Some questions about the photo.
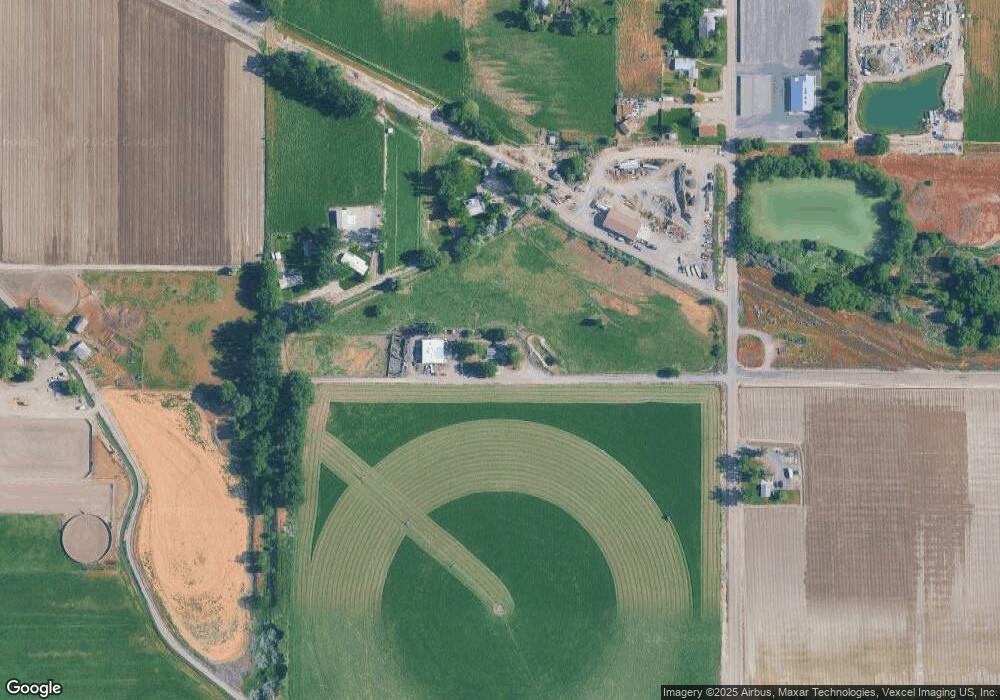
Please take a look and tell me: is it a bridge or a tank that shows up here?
tank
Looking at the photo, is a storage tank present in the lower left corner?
Yes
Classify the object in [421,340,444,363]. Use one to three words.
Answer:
barn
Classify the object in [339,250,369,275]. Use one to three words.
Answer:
house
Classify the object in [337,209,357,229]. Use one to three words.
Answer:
barn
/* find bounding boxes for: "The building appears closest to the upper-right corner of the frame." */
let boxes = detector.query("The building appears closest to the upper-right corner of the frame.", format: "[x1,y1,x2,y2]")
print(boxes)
[790,74,817,112]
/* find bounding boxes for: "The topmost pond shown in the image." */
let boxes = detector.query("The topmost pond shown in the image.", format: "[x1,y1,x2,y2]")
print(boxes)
[857,64,950,135]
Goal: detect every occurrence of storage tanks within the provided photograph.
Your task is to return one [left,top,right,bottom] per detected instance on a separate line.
[61,515,110,564]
